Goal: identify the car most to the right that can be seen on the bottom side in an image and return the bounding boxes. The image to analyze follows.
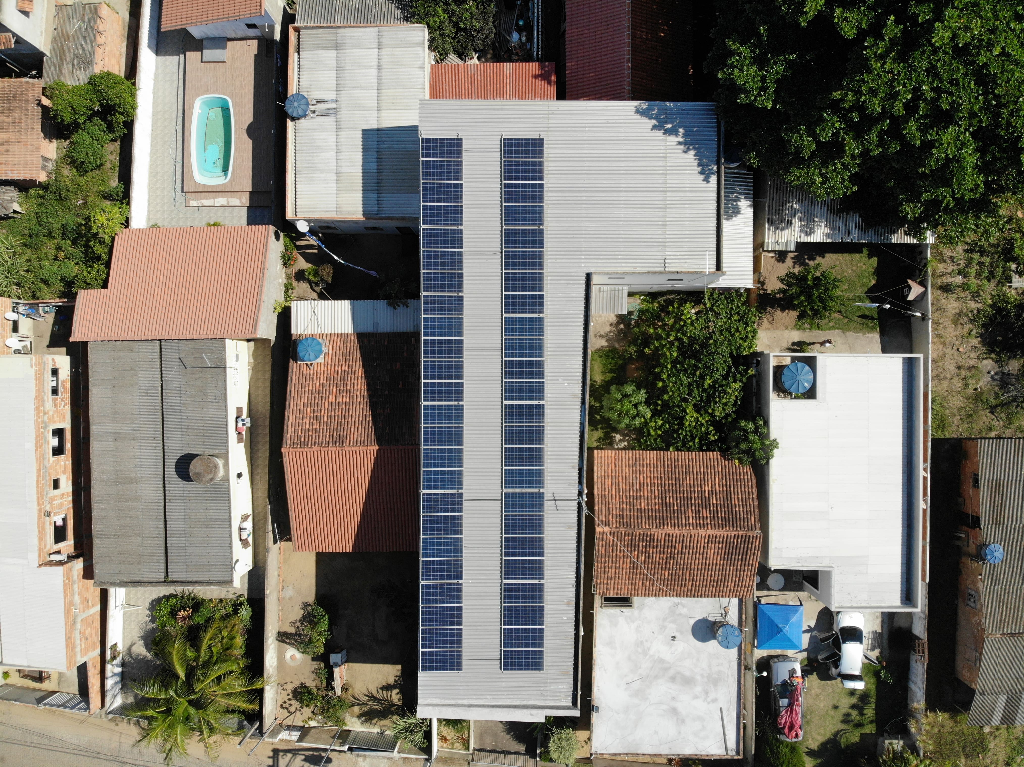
[812,611,882,697]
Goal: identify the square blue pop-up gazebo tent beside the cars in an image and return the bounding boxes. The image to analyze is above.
[756,594,802,650]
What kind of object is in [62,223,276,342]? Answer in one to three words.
house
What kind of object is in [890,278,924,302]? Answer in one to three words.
shed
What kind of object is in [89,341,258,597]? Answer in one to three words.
house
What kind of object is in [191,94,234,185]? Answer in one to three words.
swimming pool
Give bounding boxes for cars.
[812,611,882,697]
[763,653,809,741]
